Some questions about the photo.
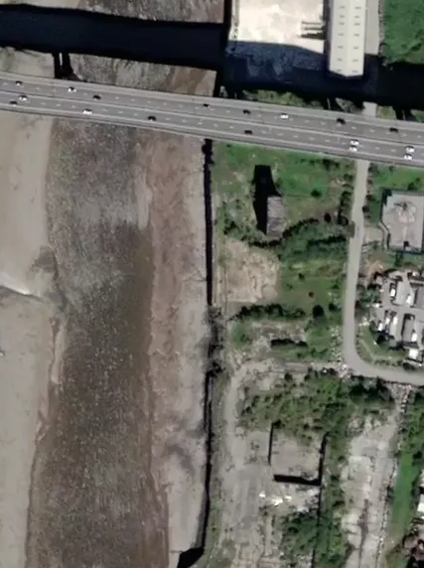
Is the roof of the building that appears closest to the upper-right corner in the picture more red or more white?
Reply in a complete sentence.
In this view, the roof of the building that appears closest to the upper-right corner is white.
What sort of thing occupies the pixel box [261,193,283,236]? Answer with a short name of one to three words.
building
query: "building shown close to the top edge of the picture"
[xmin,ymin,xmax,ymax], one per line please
[325,0,367,77]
